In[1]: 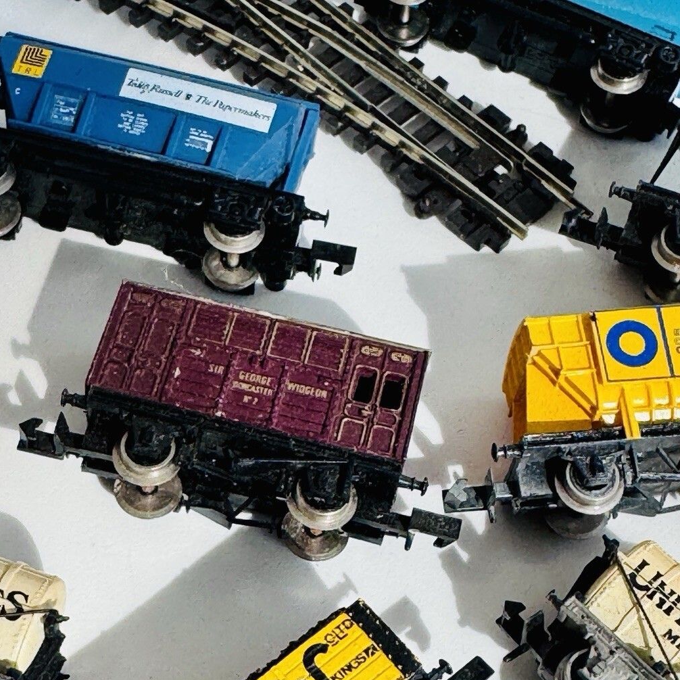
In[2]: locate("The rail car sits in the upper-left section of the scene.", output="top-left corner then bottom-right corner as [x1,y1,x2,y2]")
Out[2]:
[0,25,356,294]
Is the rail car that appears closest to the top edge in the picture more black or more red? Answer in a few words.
black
